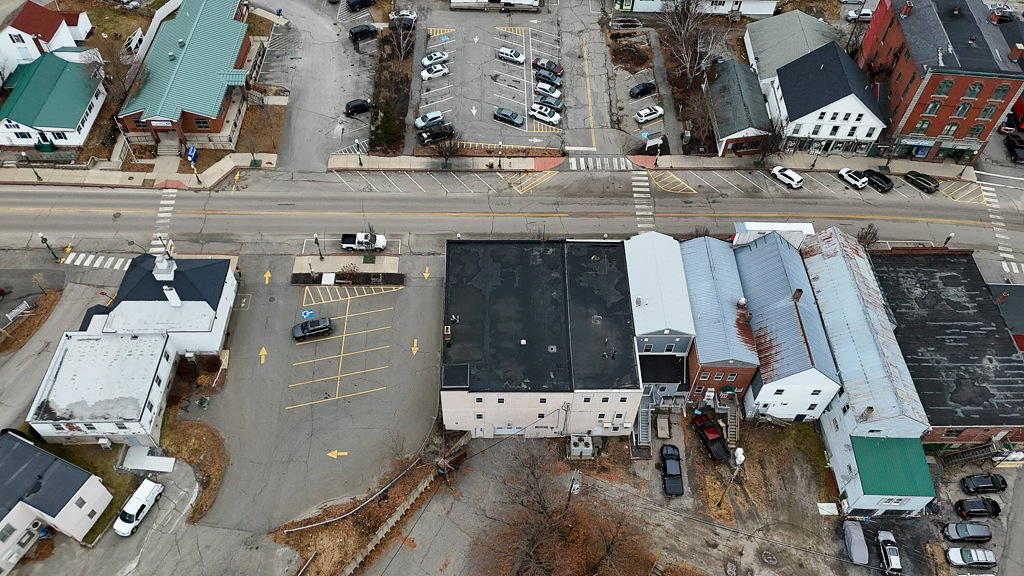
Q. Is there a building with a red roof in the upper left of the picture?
Yes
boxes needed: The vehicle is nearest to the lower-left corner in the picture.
[111,477,167,534]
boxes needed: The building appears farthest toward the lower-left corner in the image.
[0,430,114,572]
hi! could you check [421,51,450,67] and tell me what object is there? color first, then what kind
white car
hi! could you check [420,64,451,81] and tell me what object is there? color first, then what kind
white car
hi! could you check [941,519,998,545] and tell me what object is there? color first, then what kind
gray car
